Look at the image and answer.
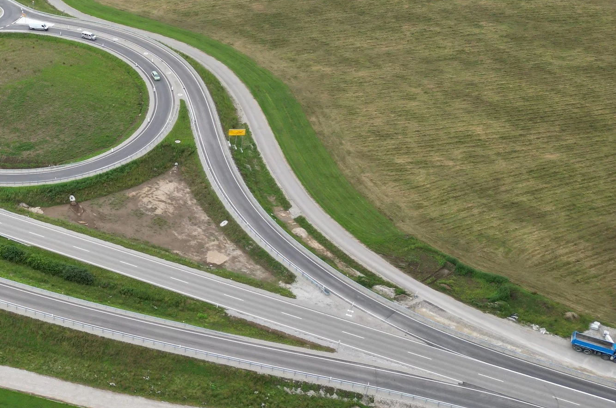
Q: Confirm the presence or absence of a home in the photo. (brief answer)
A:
No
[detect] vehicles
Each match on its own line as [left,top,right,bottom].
[151,69,162,78]
[576,332,616,362]
[81,29,96,40]
[28,19,49,29]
